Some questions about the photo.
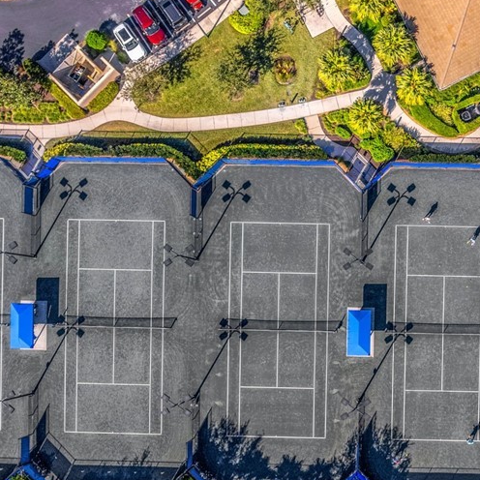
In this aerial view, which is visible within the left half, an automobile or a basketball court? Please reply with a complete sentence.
It is an automobile that can be seen within the left half.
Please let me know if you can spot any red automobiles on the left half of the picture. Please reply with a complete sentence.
Yes, on the left half of the picture there is a red automobile.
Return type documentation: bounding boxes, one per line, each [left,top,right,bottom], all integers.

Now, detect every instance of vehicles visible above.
[113,19,150,63]
[189,0,207,9]
[132,1,167,46]
[160,0,192,30]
